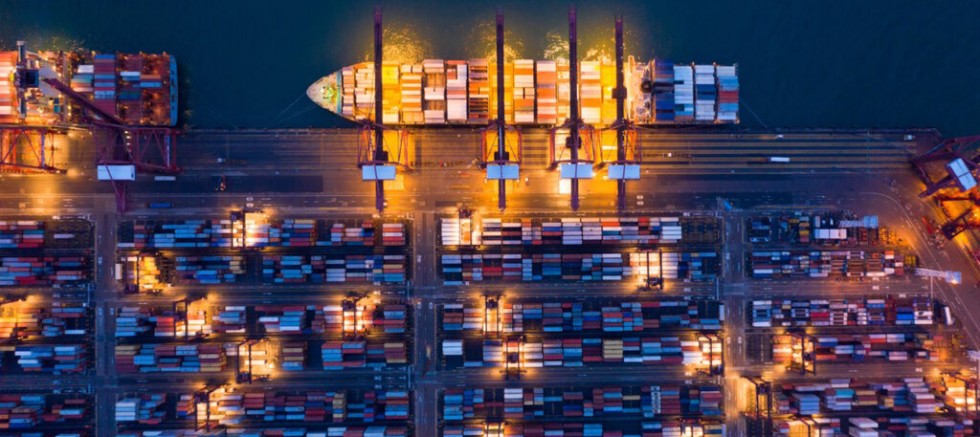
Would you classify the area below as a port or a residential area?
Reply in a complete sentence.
This looks like a port.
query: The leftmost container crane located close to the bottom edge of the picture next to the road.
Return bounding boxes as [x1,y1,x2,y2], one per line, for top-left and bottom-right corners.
[193,381,224,427]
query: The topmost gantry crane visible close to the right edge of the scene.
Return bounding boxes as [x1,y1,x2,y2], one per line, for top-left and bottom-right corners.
[908,136,980,198]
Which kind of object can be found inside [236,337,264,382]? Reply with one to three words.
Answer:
container crane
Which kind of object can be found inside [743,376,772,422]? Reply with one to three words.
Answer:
container crane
